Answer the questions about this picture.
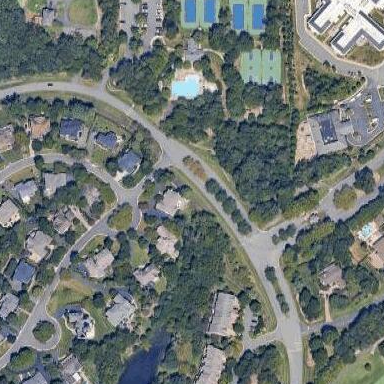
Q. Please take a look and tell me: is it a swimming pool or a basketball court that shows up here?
swimming pool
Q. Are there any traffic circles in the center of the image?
No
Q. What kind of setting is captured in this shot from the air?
residential area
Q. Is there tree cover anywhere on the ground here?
Yes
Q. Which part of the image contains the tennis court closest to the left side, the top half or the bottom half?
top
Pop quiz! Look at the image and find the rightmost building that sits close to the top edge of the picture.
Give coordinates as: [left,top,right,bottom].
[308,0,384,54]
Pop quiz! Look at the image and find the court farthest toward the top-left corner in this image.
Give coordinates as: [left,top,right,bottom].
[181,0,200,27]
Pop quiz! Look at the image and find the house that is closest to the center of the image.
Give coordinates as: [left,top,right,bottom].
[159,189,186,217]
